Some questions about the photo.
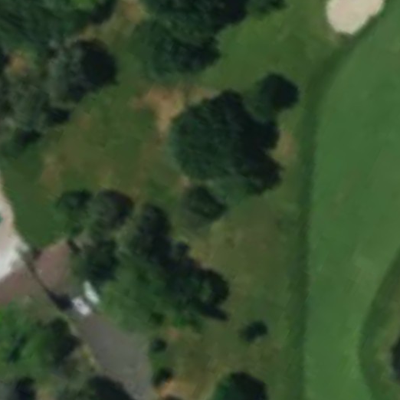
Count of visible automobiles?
two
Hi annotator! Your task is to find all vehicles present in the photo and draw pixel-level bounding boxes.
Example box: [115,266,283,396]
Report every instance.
[81,281,102,308]
[69,296,93,317]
